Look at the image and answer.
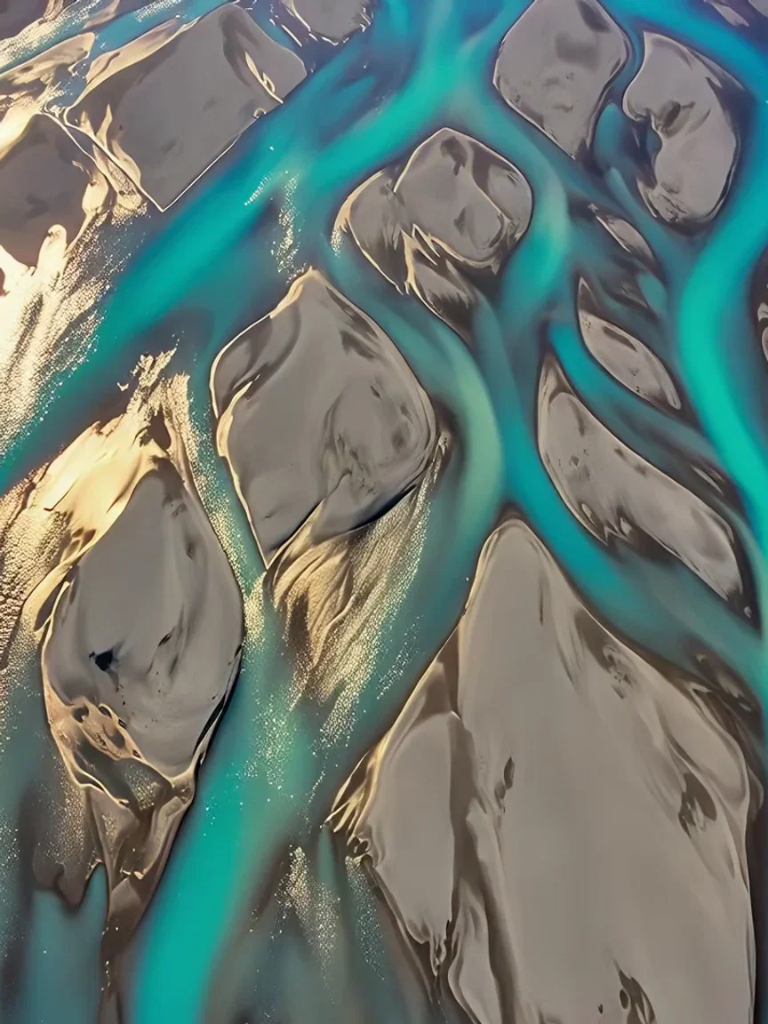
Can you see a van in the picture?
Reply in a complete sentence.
No, this view has no van in it.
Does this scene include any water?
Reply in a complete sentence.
Yes, there's water in this view.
